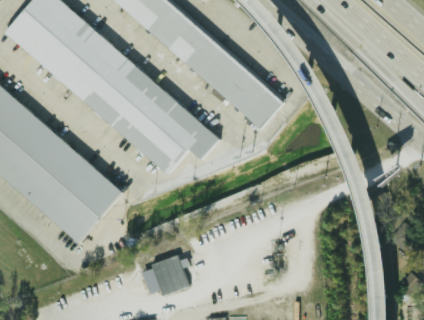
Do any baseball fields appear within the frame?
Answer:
No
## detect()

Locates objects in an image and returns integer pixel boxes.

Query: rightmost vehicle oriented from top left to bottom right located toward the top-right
[400,76,416,91]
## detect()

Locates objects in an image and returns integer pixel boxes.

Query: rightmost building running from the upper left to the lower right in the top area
[117,0,286,129]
